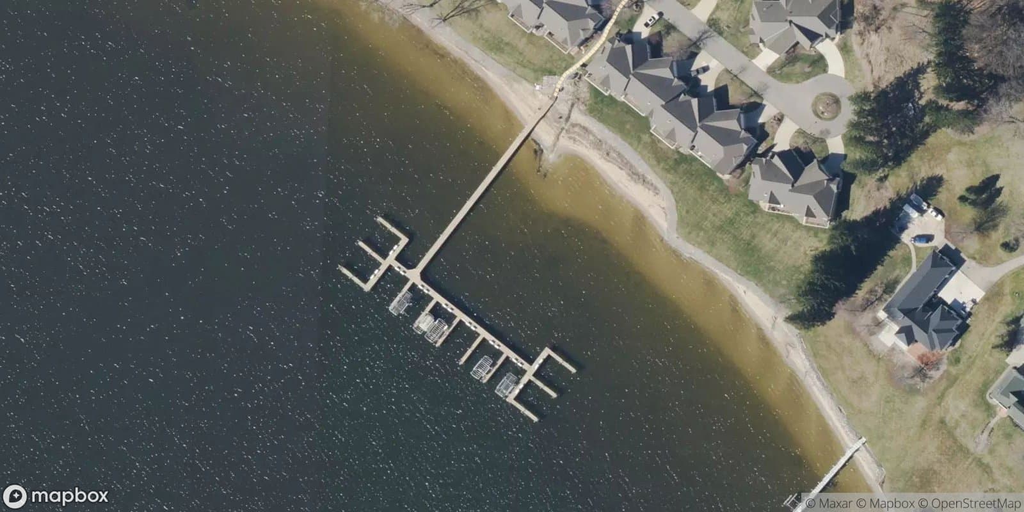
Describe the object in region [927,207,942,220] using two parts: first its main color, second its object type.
white vehicle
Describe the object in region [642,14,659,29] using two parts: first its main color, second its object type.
white vehicle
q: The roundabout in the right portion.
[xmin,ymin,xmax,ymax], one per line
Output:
[811,91,841,121]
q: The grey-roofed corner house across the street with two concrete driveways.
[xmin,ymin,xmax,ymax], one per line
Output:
[749,0,838,56]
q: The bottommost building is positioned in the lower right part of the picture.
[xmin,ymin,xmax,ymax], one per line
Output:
[991,350,1024,424]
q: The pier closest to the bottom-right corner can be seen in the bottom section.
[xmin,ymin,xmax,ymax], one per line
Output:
[789,438,866,512]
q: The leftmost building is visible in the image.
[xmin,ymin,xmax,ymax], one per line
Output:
[505,0,598,53]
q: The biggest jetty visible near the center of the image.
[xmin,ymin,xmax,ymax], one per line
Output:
[338,96,578,422]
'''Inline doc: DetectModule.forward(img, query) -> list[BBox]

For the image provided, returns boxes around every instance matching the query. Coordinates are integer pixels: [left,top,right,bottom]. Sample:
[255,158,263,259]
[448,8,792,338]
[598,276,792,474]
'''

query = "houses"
[886,246,960,354]
[505,0,598,53]
[585,37,754,176]
[991,350,1024,424]
[749,0,838,56]
[746,149,839,228]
